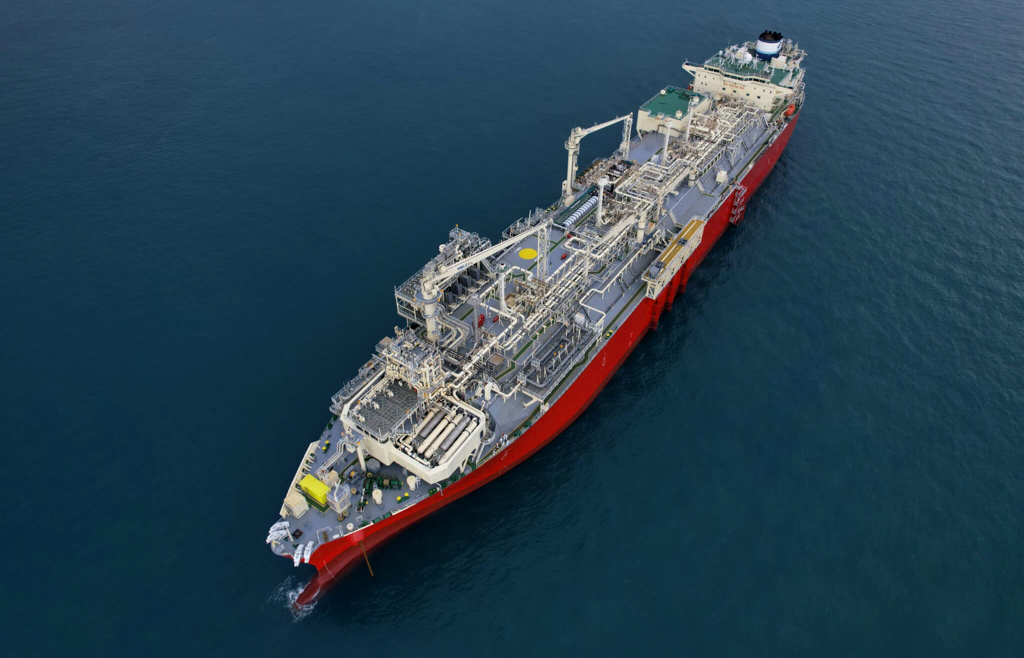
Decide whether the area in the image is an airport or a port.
port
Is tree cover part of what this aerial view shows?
No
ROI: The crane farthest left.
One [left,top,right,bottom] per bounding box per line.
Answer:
[407,215,553,329]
